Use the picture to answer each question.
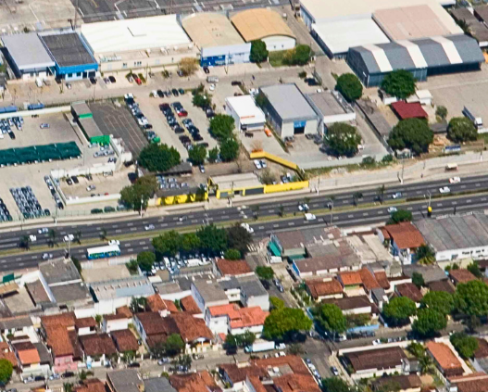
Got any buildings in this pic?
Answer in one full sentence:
Yes, this view includes a building.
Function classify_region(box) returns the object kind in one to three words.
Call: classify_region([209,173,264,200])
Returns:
building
